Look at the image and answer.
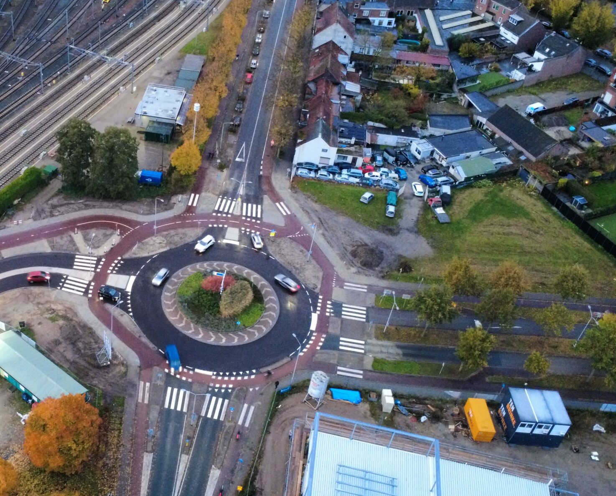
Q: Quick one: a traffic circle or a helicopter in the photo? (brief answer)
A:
traffic circle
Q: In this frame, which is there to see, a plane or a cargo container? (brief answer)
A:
cargo container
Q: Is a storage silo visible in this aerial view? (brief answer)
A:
Yes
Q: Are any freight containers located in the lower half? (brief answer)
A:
Yes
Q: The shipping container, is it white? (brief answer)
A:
No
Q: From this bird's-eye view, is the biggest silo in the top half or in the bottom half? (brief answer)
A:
bottom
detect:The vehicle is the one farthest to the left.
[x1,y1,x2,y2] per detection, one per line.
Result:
[27,270,51,283]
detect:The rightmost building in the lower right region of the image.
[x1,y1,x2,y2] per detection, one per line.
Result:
[495,388,571,449]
